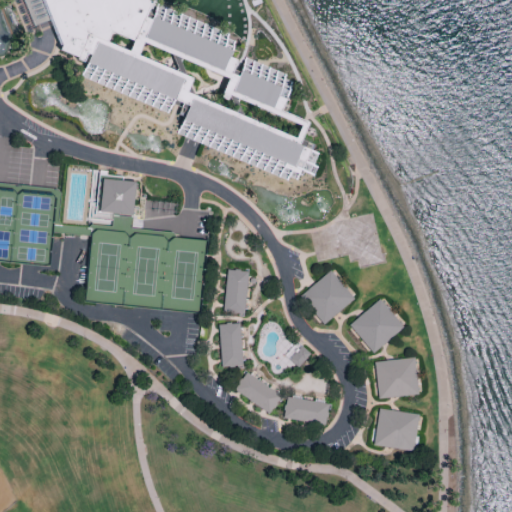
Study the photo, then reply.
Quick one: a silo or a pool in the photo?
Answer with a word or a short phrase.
pool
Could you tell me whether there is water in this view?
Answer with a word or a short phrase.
Yes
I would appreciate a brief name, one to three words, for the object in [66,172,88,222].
swimming pool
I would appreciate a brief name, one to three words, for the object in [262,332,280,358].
swimming pool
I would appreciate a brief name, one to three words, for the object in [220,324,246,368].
house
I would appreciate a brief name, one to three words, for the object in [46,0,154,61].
building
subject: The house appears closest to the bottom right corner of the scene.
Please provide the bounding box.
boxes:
[372,409,424,450]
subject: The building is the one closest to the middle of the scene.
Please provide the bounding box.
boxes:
[224,268,251,316]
